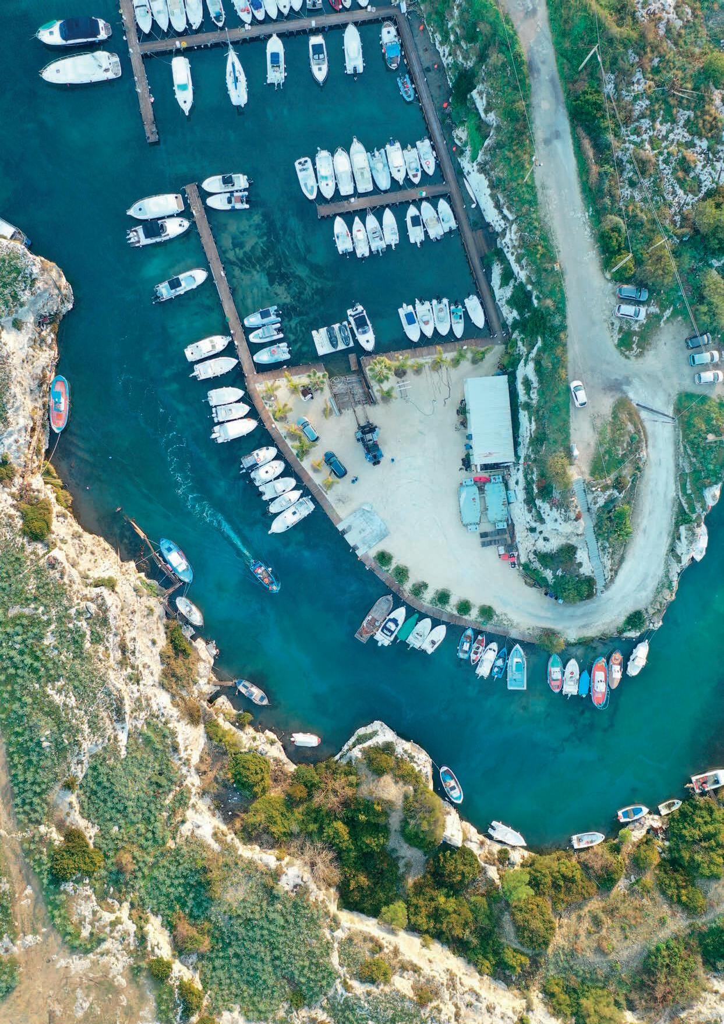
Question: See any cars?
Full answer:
Yes, a car appears in the view.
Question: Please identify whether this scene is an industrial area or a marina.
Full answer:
This looks like a marina.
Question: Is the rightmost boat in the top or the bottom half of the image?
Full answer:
It is in the bottom half that the rightmost boat appears.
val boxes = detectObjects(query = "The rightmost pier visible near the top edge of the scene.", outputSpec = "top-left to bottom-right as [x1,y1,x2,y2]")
[399,10,501,338]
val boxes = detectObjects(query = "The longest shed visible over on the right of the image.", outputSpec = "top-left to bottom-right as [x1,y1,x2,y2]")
[464,375,514,472]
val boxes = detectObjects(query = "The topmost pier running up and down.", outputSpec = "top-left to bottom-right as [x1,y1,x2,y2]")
[120,0,158,143]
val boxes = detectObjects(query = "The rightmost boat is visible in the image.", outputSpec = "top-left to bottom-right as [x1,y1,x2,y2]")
[689,765,724,793]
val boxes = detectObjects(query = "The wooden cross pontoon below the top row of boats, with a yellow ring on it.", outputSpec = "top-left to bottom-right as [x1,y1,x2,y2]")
[141,7,400,56]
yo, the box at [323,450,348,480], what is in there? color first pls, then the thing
blue car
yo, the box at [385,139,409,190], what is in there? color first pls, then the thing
white boat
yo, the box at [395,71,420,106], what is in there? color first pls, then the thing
blue boat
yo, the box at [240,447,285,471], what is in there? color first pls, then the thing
white boat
